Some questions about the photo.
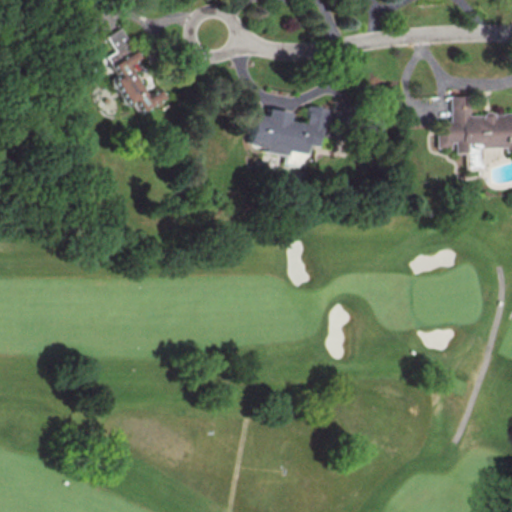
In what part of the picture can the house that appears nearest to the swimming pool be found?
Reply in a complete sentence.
Look in the top right portion of the view to spot the house that appears nearest to the swimming pool.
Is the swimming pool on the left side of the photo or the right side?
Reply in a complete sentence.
The swimming pool appears in the right half of the scene.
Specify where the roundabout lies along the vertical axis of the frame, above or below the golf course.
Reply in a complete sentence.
The roundabout is located above the golf course in this view.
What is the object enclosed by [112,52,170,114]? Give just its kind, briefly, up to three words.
house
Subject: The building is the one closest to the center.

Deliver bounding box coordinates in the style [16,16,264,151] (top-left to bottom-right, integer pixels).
[252,106,330,166]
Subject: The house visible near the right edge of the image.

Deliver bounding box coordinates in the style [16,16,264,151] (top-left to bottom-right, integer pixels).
[437,96,512,156]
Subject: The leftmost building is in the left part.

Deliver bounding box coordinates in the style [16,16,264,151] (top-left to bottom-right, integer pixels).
[106,30,132,69]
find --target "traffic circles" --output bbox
[182,6,275,64]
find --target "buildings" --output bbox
[106,30,132,69]
[252,106,330,166]
[112,52,170,114]
[437,96,512,156]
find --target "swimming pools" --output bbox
[490,162,512,186]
